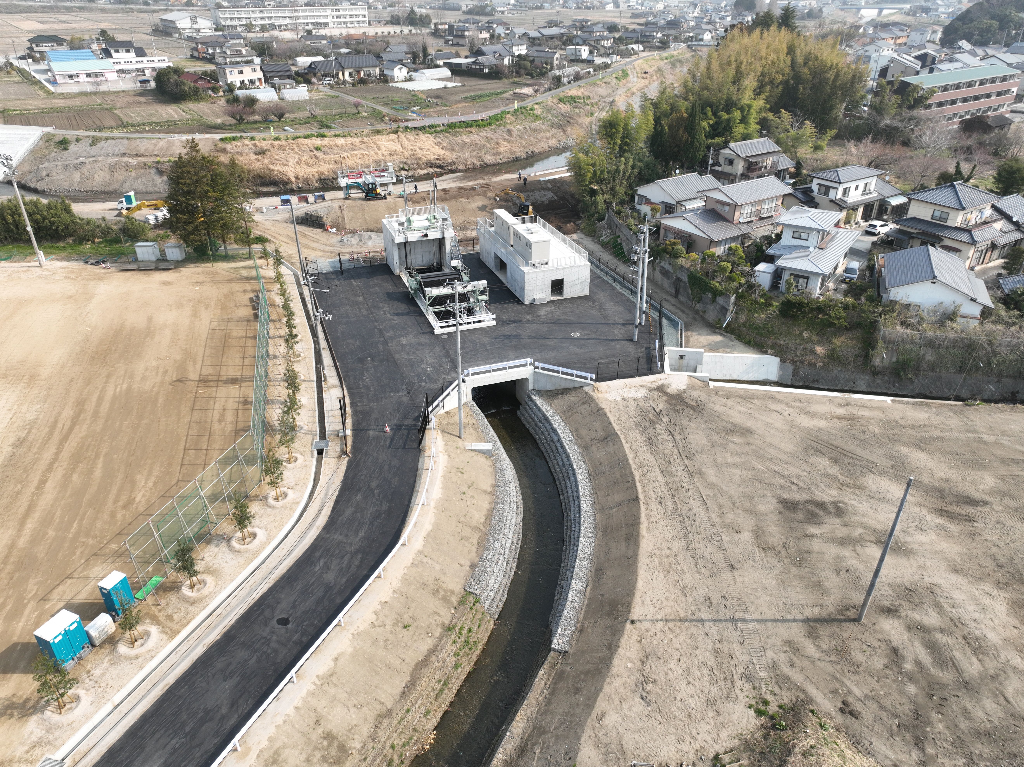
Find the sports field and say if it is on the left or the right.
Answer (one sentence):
The sports field appears in the left half of the scene.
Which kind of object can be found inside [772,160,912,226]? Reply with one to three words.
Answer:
house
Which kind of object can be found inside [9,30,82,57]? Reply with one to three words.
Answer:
house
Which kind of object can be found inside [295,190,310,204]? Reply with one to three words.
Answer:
vehicle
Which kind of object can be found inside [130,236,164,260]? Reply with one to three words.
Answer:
shed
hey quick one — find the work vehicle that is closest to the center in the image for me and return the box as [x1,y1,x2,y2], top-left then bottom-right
[476,183,542,222]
